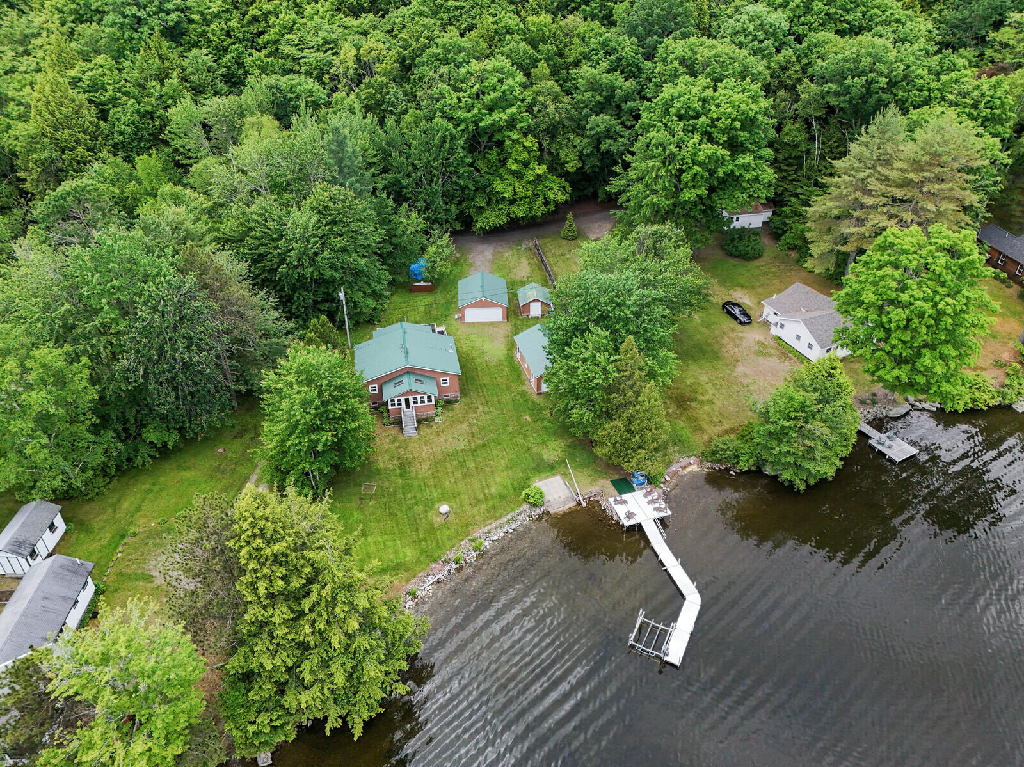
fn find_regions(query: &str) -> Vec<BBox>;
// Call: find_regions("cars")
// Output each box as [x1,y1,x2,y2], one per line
[719,300,757,323]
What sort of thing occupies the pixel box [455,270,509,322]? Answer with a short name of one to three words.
building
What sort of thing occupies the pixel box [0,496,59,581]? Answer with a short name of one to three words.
shed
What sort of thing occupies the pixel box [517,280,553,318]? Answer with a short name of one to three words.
shed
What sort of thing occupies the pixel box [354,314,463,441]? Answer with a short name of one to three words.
house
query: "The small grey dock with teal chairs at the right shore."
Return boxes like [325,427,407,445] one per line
[859,422,919,466]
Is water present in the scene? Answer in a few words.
Yes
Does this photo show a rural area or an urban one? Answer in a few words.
rural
